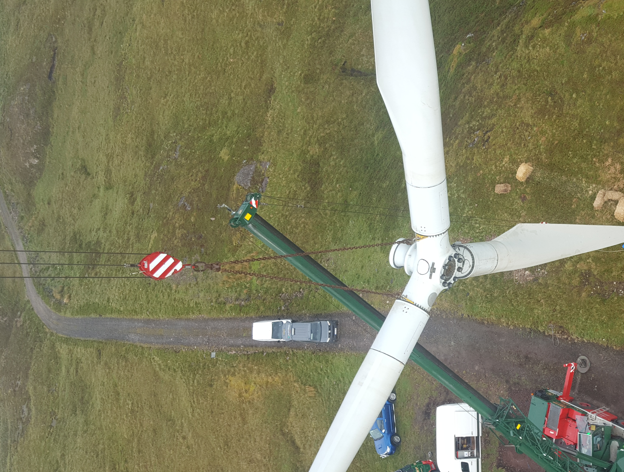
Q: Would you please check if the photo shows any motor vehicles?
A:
Yes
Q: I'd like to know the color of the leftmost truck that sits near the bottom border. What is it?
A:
blue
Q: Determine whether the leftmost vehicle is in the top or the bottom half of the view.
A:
bottom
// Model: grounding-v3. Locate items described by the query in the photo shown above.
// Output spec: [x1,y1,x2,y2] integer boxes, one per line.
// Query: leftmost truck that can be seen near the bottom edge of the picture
[367,388,401,457]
